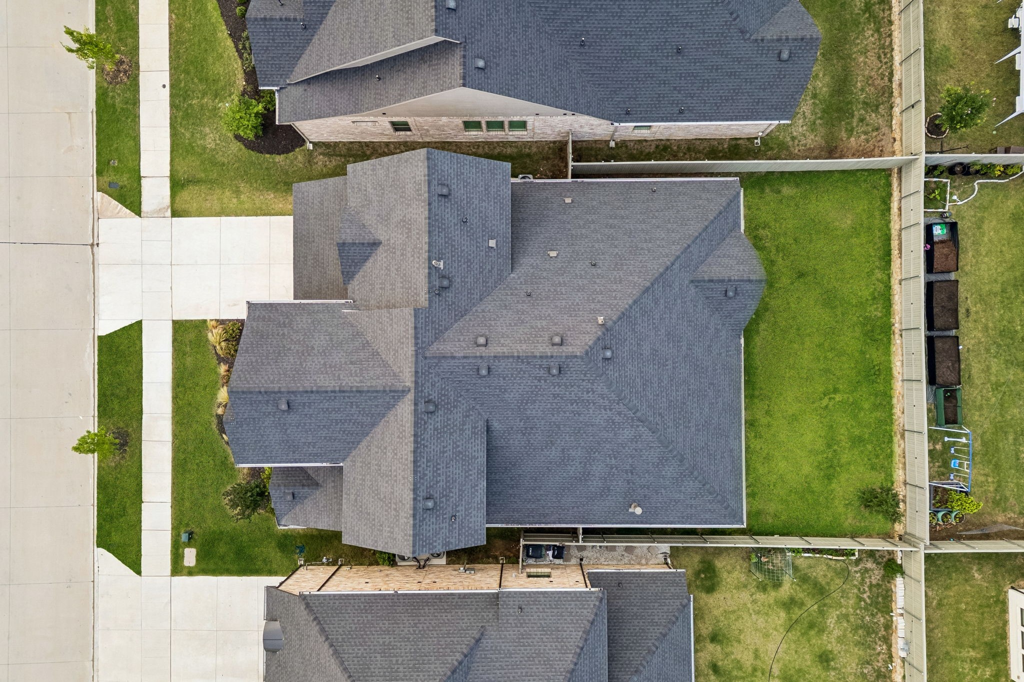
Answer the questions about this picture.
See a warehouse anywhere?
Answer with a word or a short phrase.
No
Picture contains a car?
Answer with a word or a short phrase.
No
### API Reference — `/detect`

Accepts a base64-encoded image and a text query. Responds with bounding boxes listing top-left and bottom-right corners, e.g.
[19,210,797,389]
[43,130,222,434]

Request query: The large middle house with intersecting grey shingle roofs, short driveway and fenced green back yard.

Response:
[223,148,765,555]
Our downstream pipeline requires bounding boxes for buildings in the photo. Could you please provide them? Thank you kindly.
[261,559,696,682]
[1011,588,1024,682]
[223,148,765,555]
[246,0,821,147]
